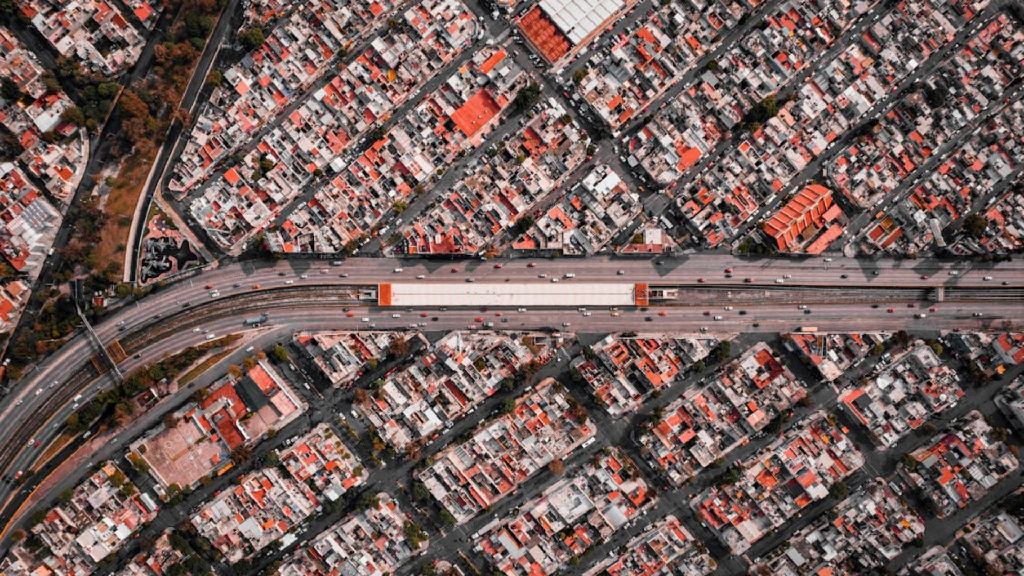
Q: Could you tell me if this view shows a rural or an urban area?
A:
urban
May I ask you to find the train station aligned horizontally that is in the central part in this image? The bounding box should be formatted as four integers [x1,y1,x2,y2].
[378,283,649,306]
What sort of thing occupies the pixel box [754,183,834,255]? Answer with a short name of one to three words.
building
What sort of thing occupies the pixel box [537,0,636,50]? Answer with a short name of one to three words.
building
